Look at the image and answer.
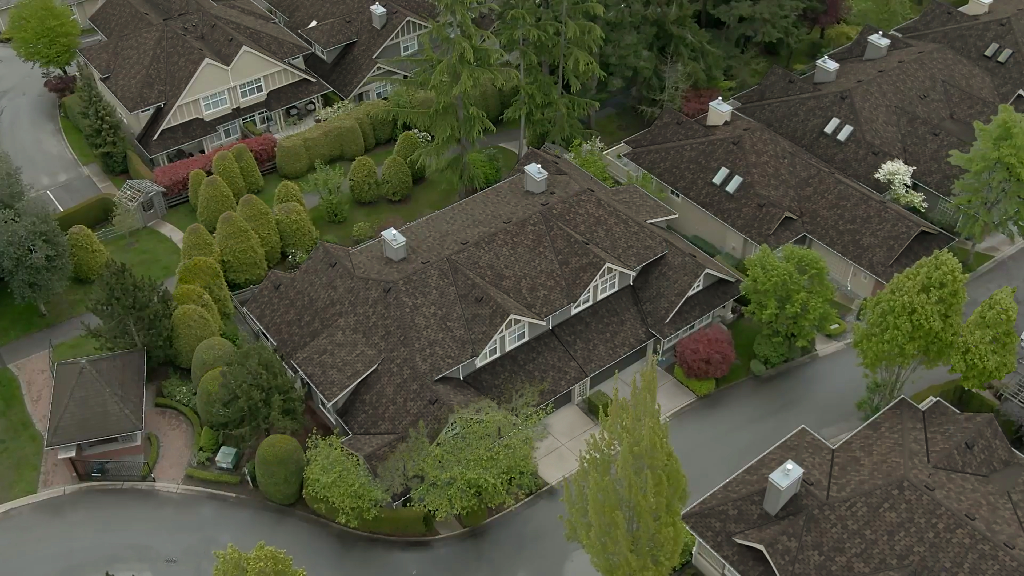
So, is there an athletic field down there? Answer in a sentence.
No, the scene contains no athletic field.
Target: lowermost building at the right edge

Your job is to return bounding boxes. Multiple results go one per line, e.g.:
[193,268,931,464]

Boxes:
[673,398,1024,576]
